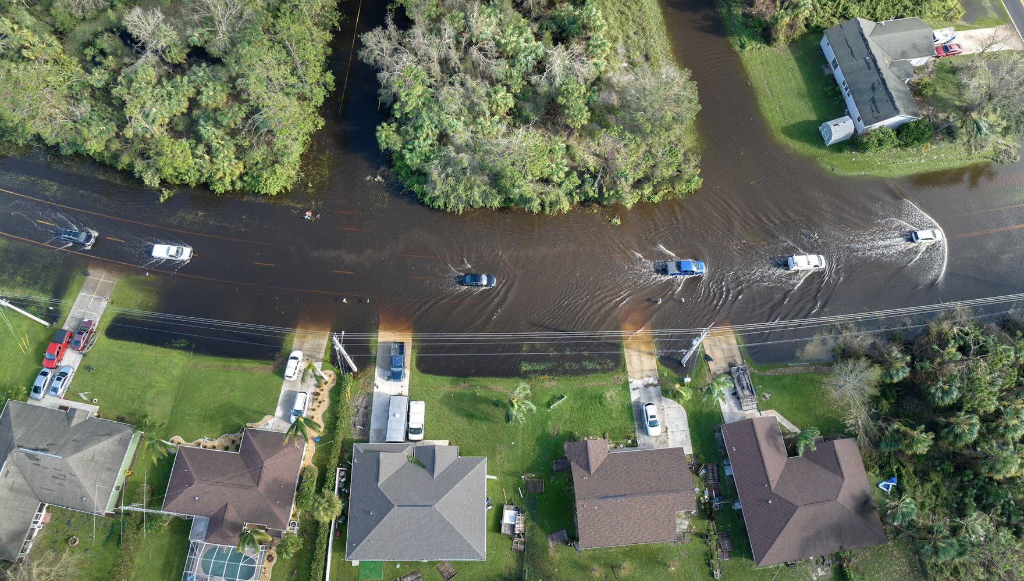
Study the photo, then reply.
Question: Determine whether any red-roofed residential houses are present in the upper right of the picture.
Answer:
No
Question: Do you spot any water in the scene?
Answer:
Yes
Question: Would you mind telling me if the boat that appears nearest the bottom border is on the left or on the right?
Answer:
left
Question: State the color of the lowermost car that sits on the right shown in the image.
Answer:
white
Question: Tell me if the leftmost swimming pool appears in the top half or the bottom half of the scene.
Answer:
bottom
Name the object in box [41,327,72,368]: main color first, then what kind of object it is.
red truck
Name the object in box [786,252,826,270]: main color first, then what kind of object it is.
white vehicle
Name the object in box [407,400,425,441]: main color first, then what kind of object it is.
white vehicle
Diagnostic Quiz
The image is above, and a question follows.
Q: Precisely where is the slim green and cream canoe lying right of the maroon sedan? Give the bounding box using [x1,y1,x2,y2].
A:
[78,328,100,357]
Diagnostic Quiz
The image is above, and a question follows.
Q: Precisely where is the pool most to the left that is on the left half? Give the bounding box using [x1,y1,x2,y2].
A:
[200,545,257,581]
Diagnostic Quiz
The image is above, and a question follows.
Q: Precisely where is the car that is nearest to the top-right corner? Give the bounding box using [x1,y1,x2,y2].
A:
[935,44,965,59]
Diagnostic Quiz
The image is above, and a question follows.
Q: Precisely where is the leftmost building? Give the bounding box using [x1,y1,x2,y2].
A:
[0,400,138,563]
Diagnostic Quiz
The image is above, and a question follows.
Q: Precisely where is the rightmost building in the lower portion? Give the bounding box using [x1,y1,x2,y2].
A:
[720,416,888,567]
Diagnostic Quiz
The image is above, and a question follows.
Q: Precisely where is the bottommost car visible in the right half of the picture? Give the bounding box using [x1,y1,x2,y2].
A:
[641,402,661,437]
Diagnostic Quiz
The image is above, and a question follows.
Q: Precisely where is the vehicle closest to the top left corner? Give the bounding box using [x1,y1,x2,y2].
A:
[58,226,99,246]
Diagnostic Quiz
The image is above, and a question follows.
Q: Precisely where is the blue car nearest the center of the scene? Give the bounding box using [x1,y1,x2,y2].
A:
[463,272,496,288]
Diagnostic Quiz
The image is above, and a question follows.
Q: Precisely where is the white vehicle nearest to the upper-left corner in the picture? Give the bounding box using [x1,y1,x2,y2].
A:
[149,243,195,261]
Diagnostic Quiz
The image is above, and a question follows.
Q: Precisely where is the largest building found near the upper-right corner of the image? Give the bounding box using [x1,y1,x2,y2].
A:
[821,17,935,135]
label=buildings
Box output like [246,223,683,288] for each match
[162,428,307,546]
[821,17,935,135]
[346,444,497,560]
[0,400,138,563]
[720,416,888,567]
[567,440,697,550]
